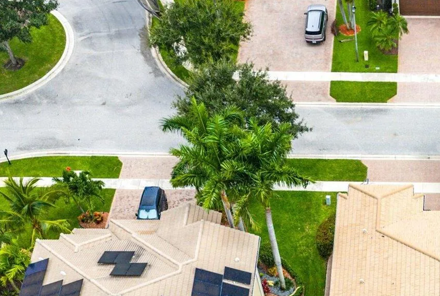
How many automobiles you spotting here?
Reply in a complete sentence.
Looking from above, you can make out 2 automobiles.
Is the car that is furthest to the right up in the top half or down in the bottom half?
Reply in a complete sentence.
The car that is furthest to the right is in the top half of the image.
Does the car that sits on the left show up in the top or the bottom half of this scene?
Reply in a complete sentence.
You can find the car that sits on the left in the bottom half.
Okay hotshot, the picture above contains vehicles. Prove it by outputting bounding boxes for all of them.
[139,183,171,217]
[305,3,328,39]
